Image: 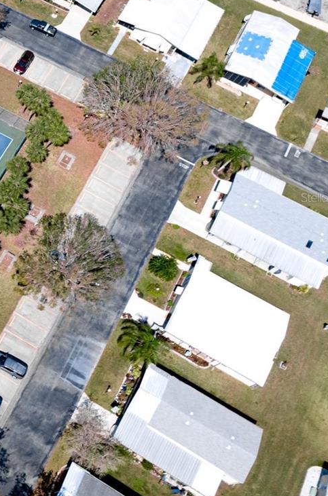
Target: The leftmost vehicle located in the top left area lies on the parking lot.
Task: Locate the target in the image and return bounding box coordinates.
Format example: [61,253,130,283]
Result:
[14,50,35,72]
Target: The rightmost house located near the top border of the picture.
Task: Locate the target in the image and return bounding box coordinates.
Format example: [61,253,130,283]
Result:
[220,10,320,101]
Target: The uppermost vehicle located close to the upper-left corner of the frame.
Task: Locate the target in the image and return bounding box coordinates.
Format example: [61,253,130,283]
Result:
[25,18,59,37]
